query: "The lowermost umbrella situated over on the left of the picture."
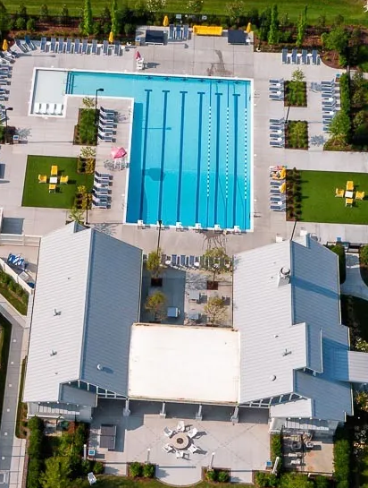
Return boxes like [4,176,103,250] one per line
[105,144,123,159]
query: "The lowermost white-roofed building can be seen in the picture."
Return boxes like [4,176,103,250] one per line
[20,223,368,442]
